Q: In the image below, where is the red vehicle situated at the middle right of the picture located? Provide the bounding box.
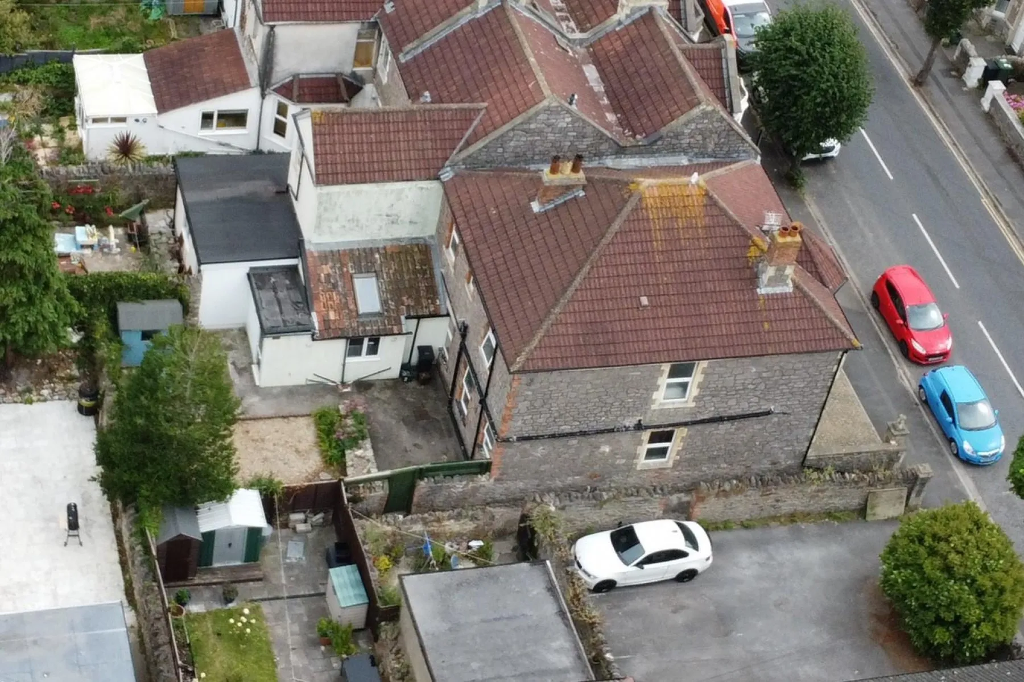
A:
[874,273,958,365]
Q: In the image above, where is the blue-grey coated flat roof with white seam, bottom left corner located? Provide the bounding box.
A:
[0,598,139,682]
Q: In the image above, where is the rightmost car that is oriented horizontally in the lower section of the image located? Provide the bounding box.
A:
[571,517,715,590]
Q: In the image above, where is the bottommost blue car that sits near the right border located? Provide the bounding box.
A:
[920,364,1011,466]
